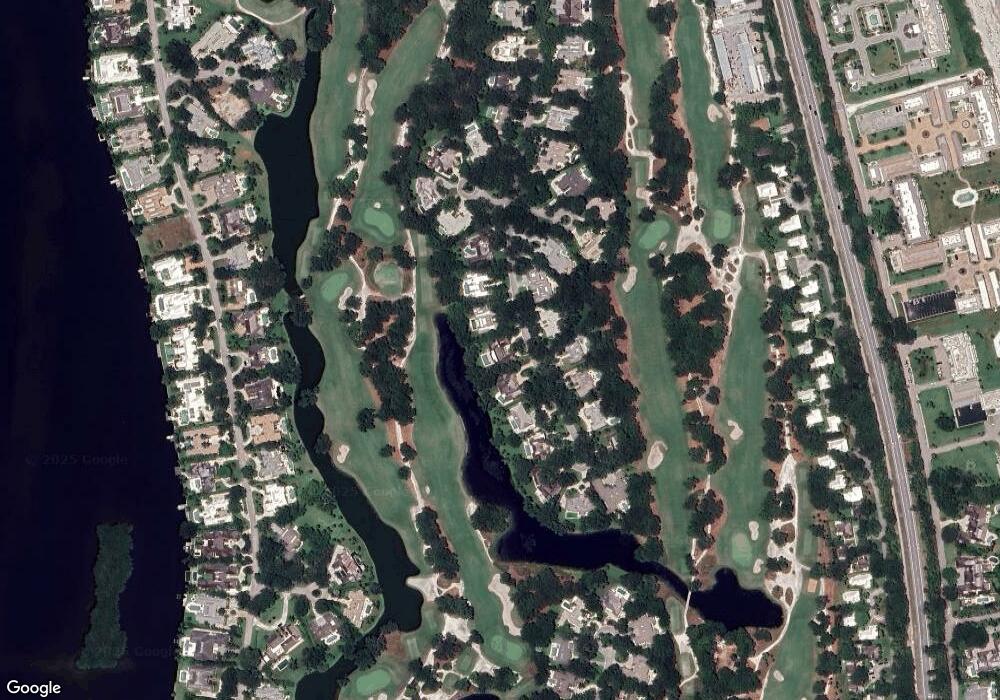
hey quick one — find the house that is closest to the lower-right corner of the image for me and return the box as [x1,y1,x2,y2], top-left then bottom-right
[964,638,1000,671]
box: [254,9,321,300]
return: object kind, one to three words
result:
pond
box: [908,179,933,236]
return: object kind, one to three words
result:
building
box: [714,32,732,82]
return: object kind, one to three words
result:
shed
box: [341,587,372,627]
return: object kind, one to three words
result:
house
